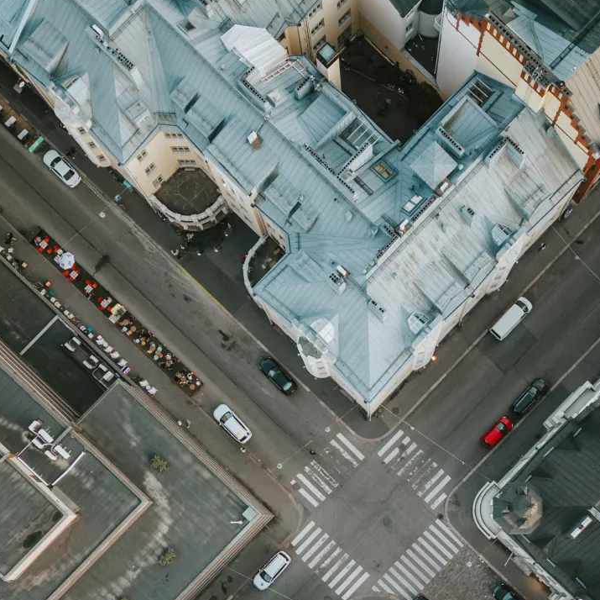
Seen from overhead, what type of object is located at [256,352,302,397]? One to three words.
car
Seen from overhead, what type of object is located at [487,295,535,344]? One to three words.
van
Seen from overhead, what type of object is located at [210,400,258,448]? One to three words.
car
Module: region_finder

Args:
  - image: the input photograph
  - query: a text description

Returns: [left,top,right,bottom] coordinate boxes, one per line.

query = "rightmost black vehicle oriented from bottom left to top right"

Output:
[506,376,550,420]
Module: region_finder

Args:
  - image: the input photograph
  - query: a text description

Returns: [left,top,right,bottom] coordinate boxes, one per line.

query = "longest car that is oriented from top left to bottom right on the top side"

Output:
[39,145,85,194]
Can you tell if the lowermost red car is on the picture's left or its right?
right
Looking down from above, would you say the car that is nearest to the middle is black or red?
black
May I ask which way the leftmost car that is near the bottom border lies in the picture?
at an angle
